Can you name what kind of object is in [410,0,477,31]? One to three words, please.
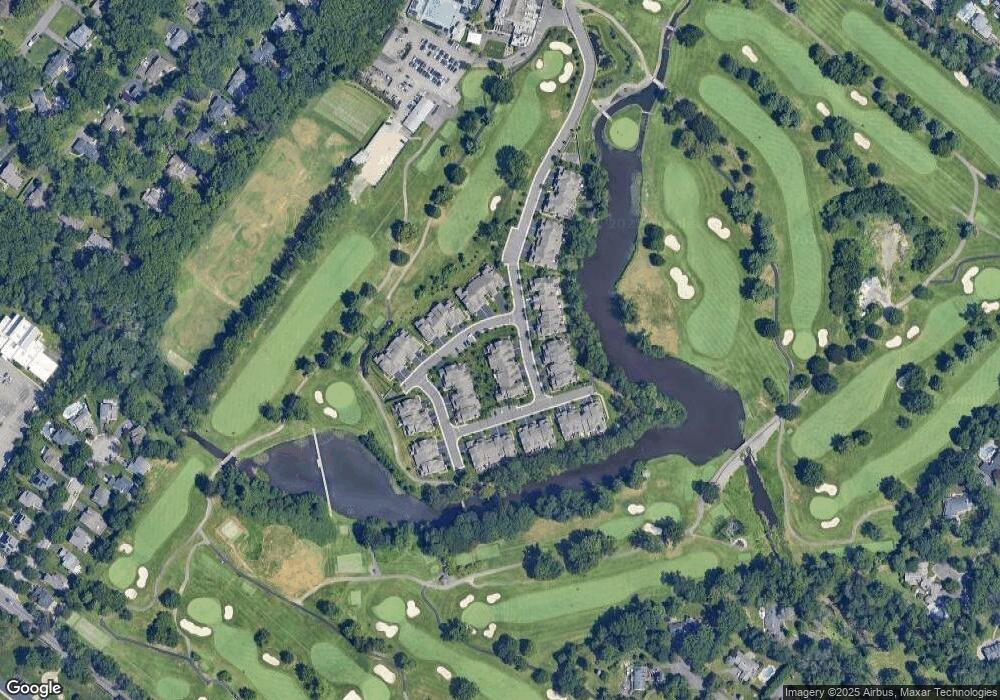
building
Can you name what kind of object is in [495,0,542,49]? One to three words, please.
building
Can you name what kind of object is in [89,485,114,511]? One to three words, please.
house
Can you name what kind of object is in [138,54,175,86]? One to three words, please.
house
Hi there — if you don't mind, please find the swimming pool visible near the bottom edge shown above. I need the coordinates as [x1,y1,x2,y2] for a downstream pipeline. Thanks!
[761,661,777,679]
